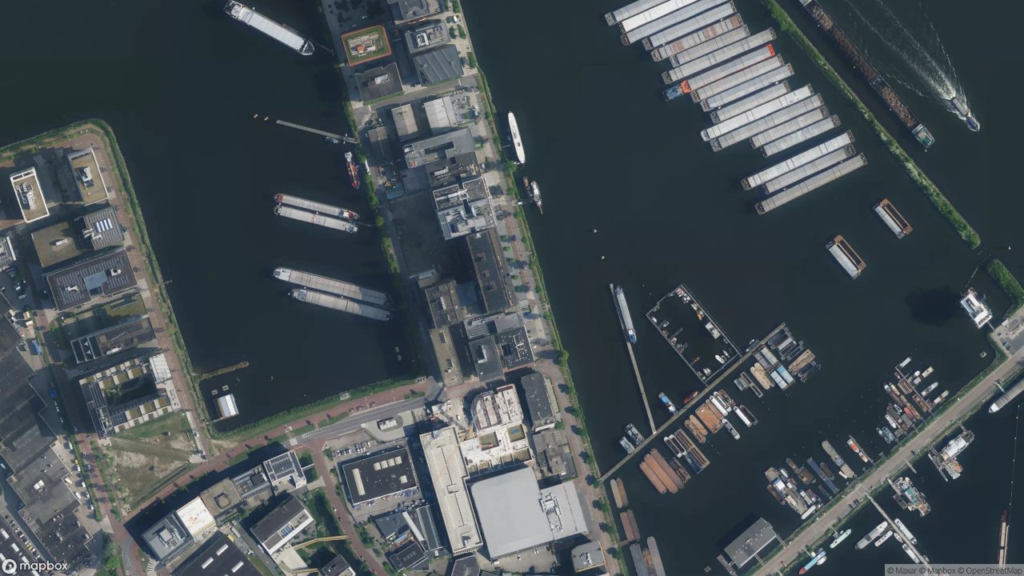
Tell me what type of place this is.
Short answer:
port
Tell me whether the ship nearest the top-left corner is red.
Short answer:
No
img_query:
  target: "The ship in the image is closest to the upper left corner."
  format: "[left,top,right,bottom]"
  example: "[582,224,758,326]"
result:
[224,0,314,54]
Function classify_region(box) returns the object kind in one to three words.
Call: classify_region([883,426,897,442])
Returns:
boat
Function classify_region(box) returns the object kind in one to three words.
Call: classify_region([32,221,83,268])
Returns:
building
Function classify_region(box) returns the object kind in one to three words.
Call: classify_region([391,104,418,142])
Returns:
shed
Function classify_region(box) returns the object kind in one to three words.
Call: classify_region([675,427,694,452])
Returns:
ship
